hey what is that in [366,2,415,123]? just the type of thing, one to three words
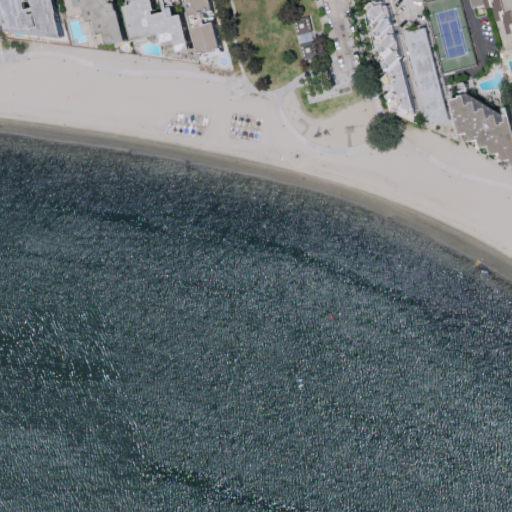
building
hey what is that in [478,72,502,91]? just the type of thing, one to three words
swimming pool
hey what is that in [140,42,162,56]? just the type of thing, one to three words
swimming pool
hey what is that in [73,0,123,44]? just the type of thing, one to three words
house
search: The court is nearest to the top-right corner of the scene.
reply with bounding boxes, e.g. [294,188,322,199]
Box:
[428,0,477,72]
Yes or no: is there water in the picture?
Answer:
Yes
